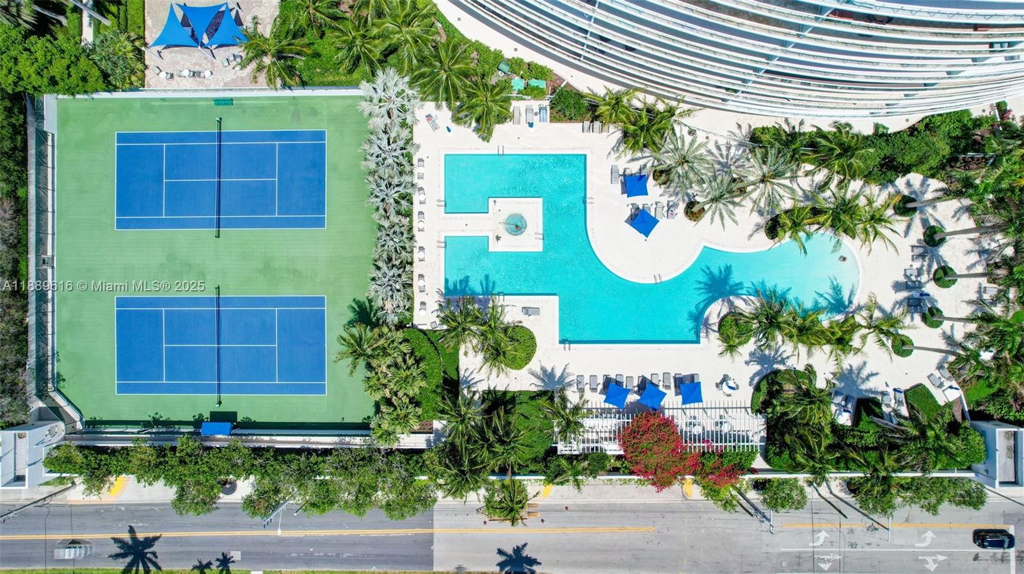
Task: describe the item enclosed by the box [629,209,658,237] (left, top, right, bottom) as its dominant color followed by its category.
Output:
blue umbrella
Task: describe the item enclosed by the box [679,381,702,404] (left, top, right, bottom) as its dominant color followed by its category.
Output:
blue umbrella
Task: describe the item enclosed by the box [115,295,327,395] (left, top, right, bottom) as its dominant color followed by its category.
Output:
blue tennis court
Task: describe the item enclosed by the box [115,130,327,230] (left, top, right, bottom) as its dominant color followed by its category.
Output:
blue tennis court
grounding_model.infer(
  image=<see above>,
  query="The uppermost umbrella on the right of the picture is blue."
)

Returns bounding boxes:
[624,175,646,197]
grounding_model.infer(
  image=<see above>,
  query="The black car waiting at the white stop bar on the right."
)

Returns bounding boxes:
[975,530,1017,551]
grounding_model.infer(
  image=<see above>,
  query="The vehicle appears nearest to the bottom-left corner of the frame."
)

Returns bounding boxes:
[53,542,92,562]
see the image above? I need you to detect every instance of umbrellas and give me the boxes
[637,382,665,411]
[603,382,629,408]
[629,209,658,237]
[679,381,702,404]
[624,175,646,197]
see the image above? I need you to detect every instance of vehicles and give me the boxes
[975,530,1017,551]
[53,542,92,562]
